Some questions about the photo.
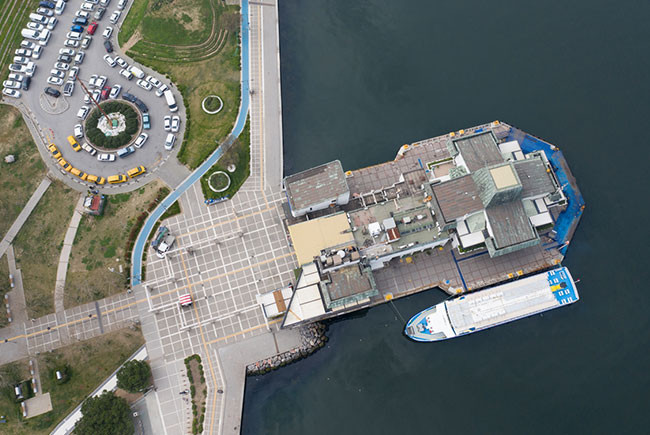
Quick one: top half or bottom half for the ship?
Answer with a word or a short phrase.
bottom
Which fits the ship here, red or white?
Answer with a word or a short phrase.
white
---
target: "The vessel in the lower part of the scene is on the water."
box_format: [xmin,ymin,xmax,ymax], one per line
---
[404,264,582,343]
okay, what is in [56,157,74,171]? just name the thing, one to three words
car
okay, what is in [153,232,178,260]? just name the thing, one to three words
truck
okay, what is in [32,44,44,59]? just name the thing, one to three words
vehicle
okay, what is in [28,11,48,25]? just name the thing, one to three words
vehicle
